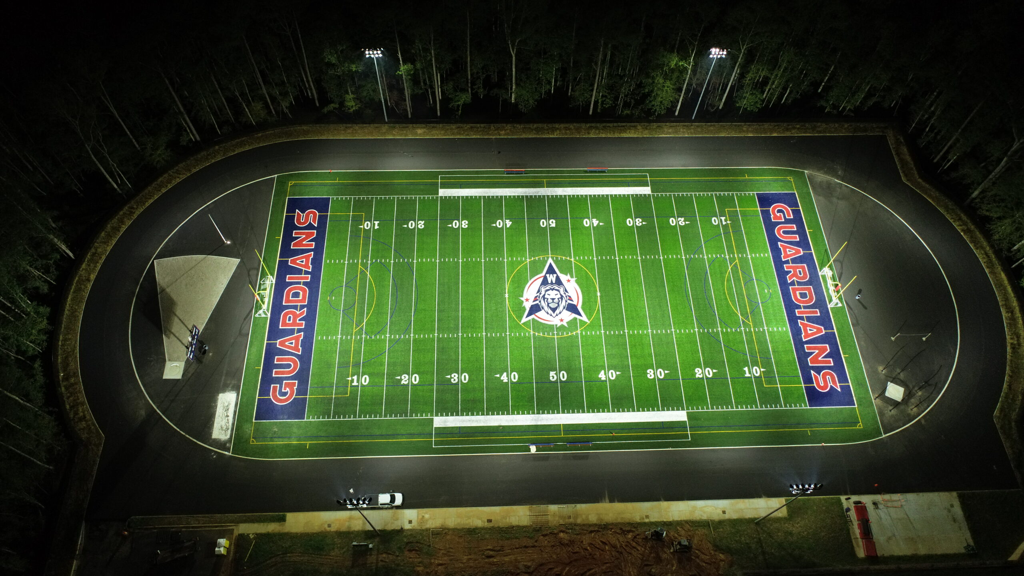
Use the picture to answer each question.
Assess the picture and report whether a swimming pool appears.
No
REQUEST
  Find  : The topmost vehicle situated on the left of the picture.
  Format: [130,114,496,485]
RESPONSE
[366,492,405,508]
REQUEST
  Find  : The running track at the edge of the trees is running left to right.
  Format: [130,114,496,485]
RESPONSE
[68,134,1021,576]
